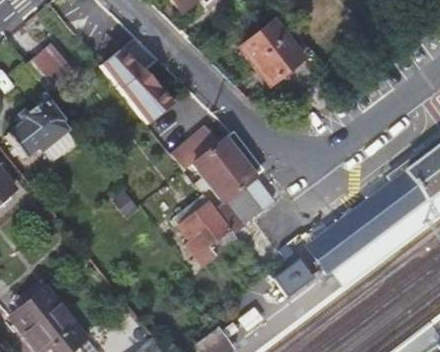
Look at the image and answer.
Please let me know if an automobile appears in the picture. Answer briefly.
Yes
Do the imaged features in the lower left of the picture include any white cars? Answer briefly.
No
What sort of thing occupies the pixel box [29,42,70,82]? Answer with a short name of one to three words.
house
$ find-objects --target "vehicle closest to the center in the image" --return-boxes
[166,125,187,146]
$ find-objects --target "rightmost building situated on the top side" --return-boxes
[242,18,312,89]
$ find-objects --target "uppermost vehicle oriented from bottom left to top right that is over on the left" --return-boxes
[155,110,177,130]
